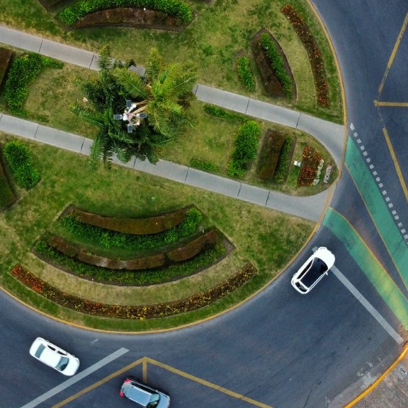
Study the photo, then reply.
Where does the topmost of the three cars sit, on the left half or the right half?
right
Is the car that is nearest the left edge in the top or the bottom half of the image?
bottom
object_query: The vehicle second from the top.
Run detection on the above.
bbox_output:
[27,336,81,376]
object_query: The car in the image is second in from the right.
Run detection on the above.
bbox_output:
[117,376,170,408]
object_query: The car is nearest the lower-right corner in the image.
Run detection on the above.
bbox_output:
[291,244,335,299]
